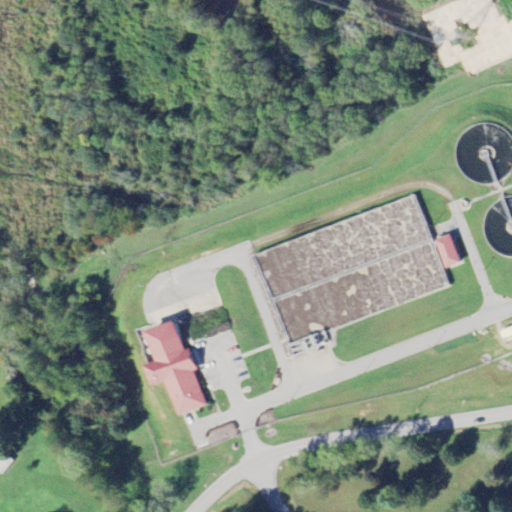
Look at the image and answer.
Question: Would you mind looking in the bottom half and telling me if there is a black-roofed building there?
No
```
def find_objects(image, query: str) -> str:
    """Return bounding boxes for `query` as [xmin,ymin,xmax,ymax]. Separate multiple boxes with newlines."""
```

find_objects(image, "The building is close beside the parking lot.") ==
[141,322,208,416]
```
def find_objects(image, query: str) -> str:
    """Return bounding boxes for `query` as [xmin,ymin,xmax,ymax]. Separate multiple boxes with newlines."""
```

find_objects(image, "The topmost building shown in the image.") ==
[436,234,460,266]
